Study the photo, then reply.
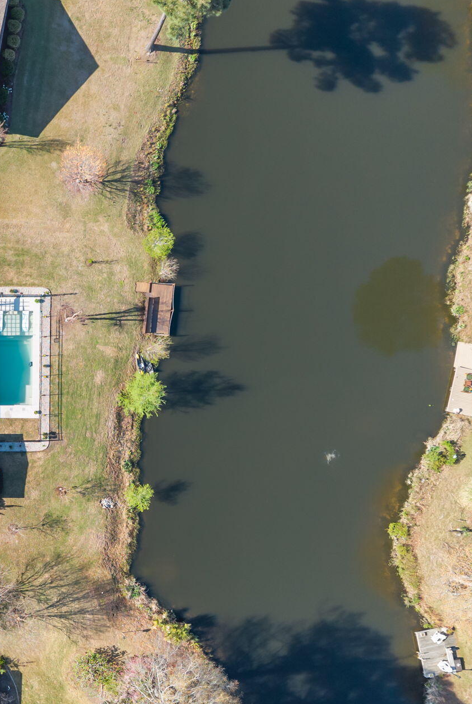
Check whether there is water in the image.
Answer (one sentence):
Yes, water shows up in the scene.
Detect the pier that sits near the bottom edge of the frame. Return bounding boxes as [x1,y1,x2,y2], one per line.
[410,626,457,678]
